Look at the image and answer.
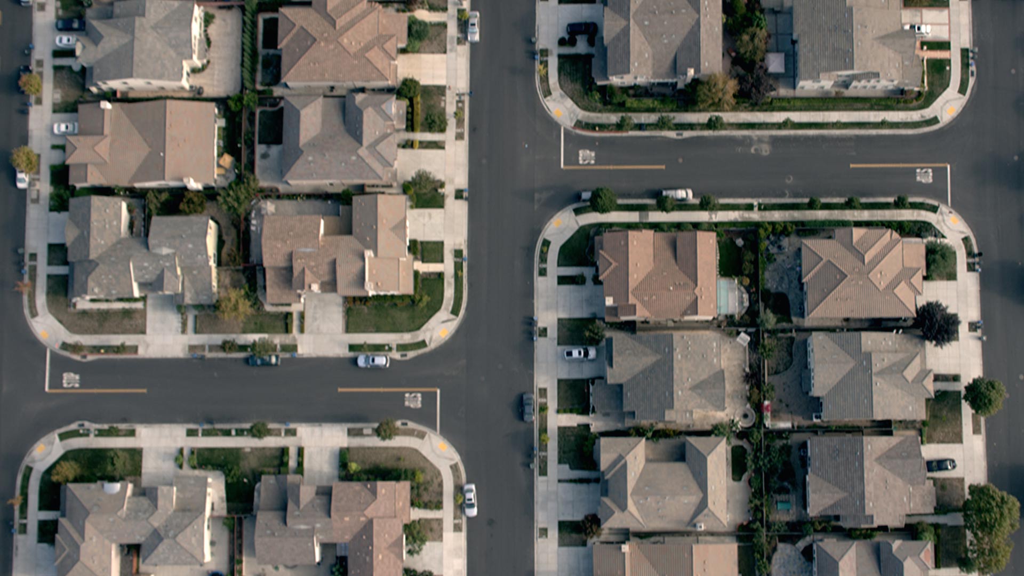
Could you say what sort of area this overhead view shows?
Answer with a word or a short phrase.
residential area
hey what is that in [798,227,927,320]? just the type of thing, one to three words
house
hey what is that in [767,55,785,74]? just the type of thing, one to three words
gazebo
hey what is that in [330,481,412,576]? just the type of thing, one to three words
house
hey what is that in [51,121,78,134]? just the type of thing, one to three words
vehicle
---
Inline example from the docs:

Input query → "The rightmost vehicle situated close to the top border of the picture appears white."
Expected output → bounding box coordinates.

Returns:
[904,20,933,35]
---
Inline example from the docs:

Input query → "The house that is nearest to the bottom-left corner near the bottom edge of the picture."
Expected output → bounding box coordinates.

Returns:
[52,476,215,576]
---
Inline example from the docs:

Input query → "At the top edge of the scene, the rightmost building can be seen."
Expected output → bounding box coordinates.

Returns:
[792,0,923,93]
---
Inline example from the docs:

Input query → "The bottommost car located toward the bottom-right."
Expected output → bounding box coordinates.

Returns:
[928,459,957,473]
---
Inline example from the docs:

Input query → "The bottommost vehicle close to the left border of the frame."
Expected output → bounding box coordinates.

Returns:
[15,166,29,191]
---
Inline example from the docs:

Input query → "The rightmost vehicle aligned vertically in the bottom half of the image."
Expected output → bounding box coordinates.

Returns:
[521,392,535,422]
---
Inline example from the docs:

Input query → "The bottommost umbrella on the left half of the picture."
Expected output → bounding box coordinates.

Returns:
[261,201,275,214]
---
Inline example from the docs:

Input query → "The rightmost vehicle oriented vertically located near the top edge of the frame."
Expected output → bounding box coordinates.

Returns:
[466,13,480,42]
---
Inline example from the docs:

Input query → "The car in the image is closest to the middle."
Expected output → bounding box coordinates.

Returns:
[565,346,594,361]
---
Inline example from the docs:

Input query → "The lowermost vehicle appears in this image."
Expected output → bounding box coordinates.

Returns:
[462,485,476,516]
